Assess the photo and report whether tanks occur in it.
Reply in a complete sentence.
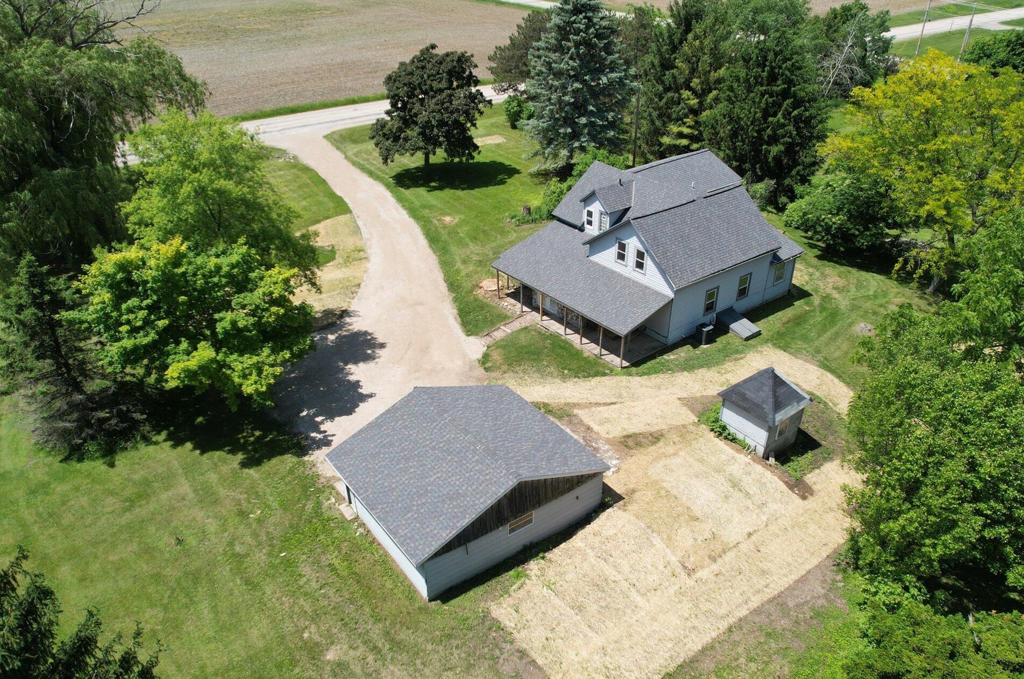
No, there is no tank in the image.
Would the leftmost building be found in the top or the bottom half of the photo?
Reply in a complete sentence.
Seen from above, the leftmost building lies in the bottom half of the view.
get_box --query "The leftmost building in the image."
[325,385,612,601]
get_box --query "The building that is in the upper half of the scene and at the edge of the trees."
[492,147,805,371]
